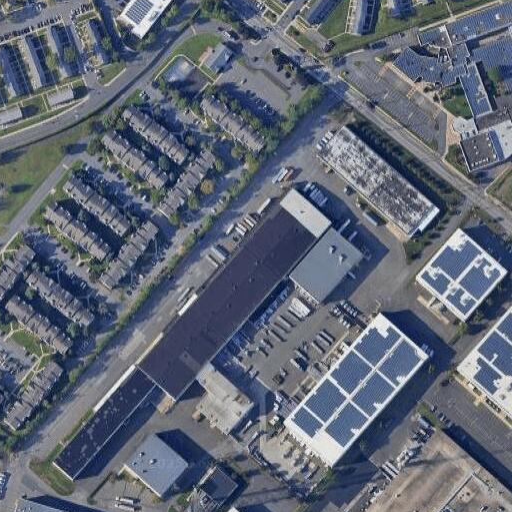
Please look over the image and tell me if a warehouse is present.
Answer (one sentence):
Yes, the photo shows a warehouse.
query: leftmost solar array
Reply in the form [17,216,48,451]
[127,0,152,23]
